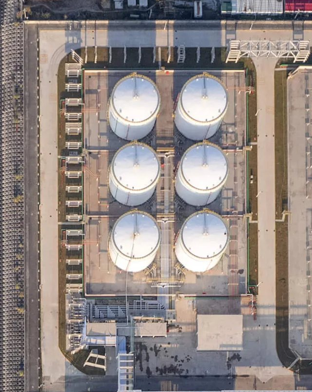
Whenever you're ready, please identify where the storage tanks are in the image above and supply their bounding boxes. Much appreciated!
[108,137,162,207]
[175,69,231,141]
[175,205,231,272]
[108,205,162,272]
[175,137,231,207]
[108,69,162,141]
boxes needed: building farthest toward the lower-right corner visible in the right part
[196,315,243,362]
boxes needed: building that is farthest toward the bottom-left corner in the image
[87,319,116,337]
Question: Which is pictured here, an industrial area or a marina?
industrial area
